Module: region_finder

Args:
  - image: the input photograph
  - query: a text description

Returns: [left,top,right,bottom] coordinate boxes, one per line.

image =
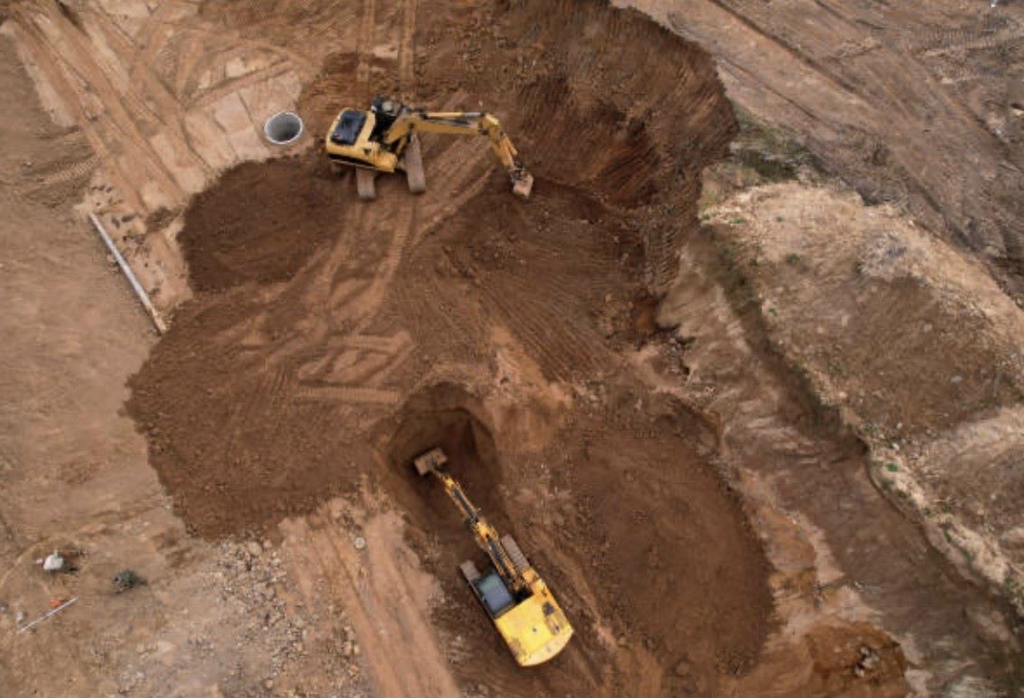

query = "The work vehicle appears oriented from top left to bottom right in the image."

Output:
[418,454,578,668]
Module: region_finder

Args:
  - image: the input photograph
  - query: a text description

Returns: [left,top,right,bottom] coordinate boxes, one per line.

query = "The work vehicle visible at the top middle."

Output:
[324,101,535,202]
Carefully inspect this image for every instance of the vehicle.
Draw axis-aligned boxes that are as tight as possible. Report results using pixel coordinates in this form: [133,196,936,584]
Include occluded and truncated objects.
[324,101,535,202]
[418,454,578,668]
